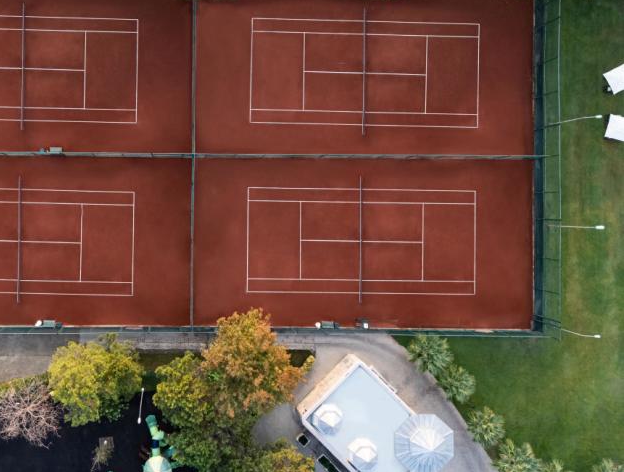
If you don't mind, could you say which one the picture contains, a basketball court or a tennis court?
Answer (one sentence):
The image shows a tennis court.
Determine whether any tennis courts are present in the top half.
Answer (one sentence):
Yes, I can see a tennis court in the top half.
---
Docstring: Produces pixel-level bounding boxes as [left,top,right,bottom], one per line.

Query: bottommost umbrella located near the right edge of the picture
[599,113,624,143]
